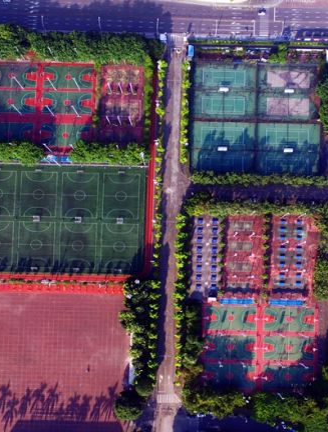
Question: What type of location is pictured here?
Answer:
sports ground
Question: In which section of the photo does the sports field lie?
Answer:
left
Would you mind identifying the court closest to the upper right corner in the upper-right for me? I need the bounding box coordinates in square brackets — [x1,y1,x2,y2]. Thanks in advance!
[267,71,309,87]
